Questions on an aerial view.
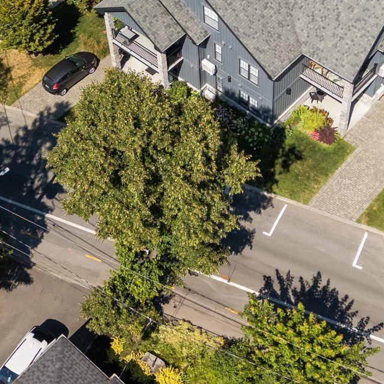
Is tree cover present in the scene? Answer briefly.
Yes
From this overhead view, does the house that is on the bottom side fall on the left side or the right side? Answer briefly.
left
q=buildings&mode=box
[14,334,129,384]
[94,0,384,136]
